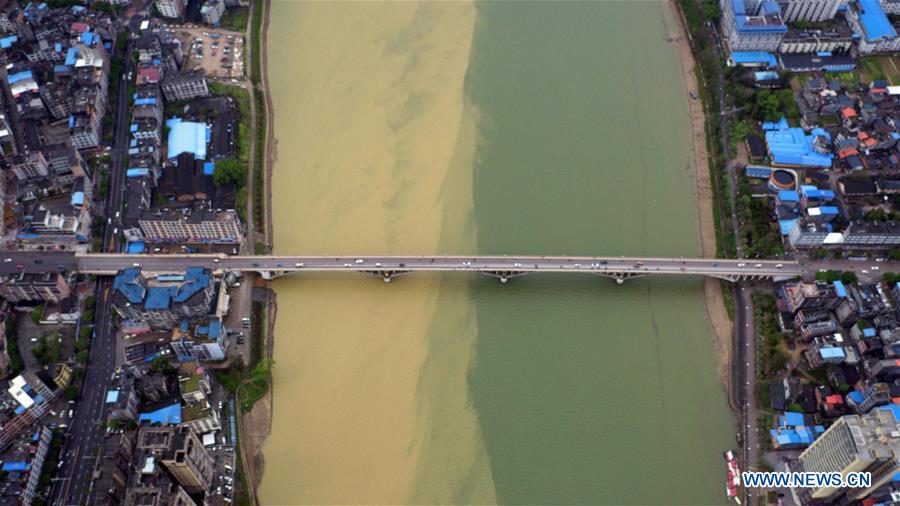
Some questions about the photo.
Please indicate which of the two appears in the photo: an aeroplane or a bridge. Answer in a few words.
bridge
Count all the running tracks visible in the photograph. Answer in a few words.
zero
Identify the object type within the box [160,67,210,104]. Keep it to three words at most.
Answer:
building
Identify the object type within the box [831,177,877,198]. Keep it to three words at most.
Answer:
building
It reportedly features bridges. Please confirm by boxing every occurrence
[74,252,801,286]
